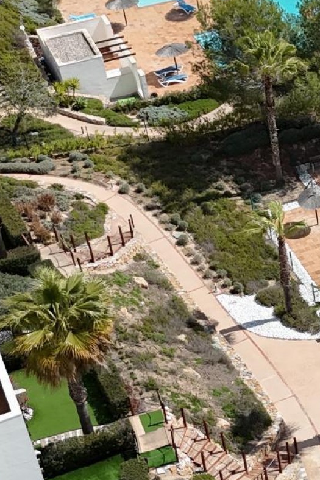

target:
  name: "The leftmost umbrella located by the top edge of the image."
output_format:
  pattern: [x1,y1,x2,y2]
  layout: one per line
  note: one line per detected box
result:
[104,0,138,24]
